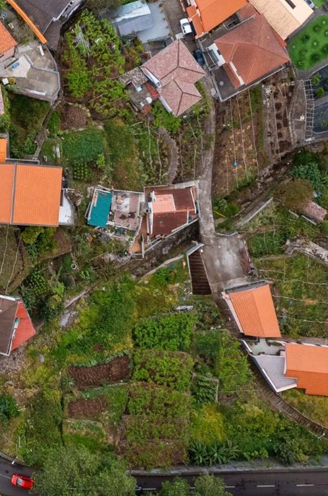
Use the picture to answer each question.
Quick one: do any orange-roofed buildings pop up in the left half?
Yes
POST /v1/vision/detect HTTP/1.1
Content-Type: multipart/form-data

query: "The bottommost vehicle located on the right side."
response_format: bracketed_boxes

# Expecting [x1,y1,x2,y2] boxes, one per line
[194,45,207,67]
